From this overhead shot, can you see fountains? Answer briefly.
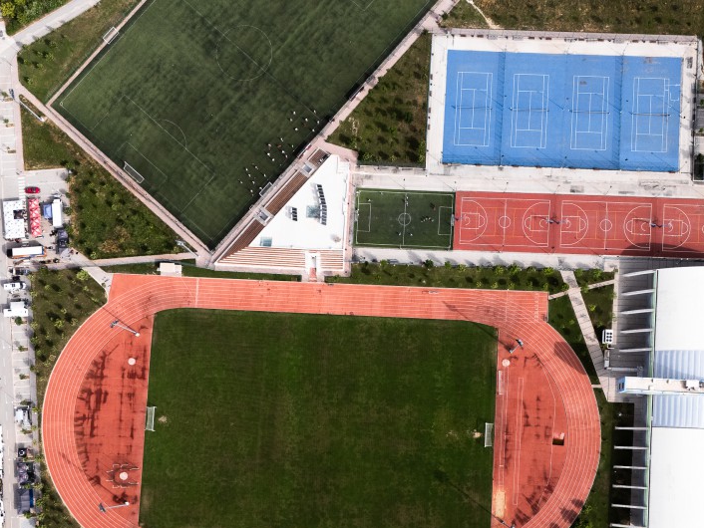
No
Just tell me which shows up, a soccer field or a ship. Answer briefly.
soccer field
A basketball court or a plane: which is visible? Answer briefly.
basketball court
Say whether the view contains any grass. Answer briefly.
Yes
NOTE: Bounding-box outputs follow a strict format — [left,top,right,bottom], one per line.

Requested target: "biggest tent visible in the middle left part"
[3,200,29,240]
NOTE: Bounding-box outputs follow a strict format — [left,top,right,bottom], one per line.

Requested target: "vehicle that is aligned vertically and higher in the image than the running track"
[51,198,67,229]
